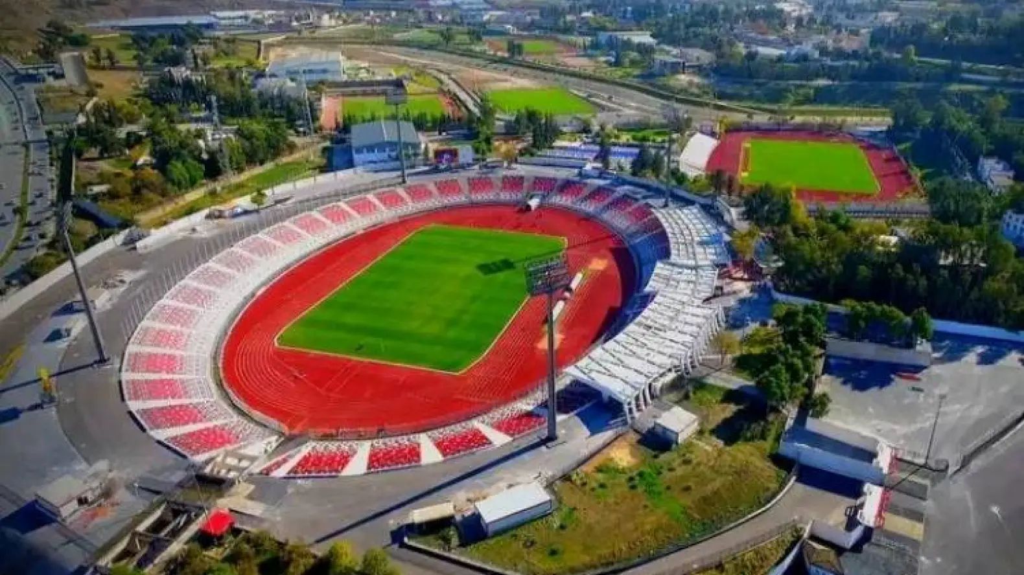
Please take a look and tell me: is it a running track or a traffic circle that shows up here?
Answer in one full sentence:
It is a running track that can be seen here.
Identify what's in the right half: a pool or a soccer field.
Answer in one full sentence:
There is a soccer field in the right half.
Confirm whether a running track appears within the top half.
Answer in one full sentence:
Yes, a running track appears within the top half.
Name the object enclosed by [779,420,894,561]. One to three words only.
building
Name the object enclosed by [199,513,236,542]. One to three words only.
tent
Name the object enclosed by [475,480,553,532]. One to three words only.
shed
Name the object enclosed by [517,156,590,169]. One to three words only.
building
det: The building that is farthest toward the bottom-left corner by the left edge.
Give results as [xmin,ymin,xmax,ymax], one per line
[35,473,102,526]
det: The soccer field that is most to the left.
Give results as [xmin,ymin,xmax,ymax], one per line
[278,224,566,373]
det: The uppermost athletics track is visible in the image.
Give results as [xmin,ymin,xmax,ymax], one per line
[708,129,924,203]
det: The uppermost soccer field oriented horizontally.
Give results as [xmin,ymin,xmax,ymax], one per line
[743,139,879,193]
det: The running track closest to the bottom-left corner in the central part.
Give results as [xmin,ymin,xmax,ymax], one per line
[213,202,636,435]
